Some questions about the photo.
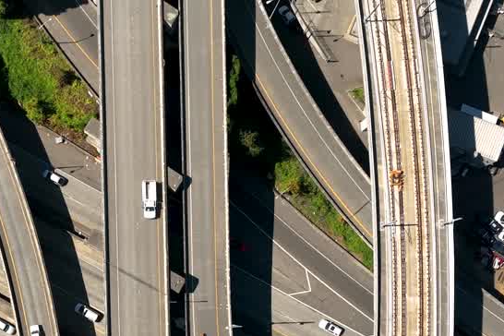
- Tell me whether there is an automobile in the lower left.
Yes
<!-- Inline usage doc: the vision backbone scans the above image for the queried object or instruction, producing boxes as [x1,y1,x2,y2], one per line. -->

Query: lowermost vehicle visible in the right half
[317,319,343,336]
